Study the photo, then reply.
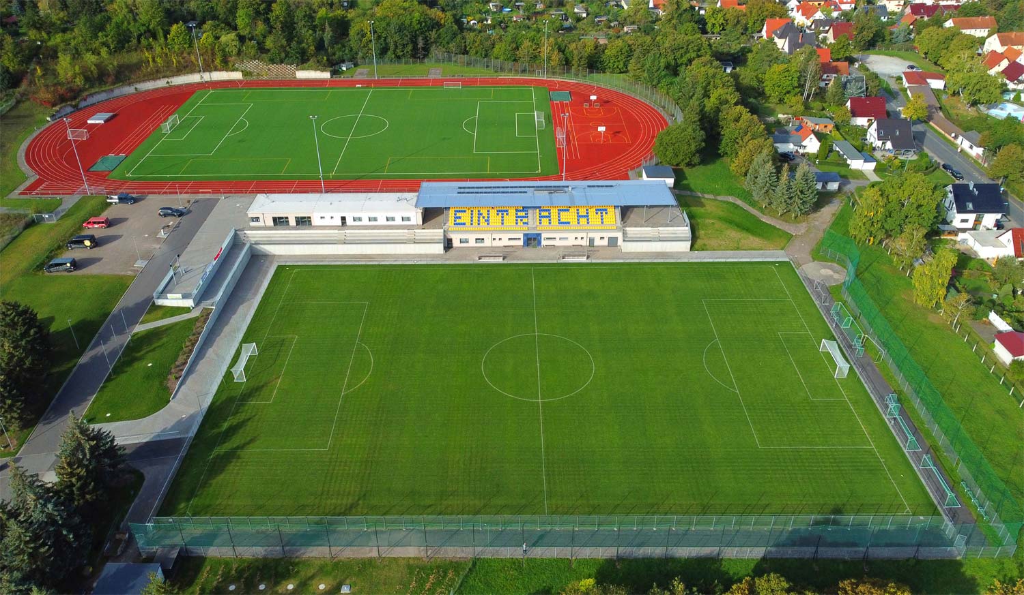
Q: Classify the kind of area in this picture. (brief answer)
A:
sports ground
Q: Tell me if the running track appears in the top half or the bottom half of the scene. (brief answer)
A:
top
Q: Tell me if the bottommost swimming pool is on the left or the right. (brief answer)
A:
right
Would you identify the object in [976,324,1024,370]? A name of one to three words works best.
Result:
building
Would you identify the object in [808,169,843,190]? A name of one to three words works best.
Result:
building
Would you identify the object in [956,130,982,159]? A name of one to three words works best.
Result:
house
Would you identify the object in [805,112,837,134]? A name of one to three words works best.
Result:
shed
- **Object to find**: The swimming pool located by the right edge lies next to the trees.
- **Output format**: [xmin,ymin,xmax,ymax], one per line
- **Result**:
[983,101,1024,122]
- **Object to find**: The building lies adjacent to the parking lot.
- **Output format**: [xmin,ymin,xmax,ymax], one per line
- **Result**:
[242,188,427,226]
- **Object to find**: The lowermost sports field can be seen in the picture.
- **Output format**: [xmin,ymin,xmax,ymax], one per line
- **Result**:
[148,261,951,530]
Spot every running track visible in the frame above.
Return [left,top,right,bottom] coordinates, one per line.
[29,78,668,195]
